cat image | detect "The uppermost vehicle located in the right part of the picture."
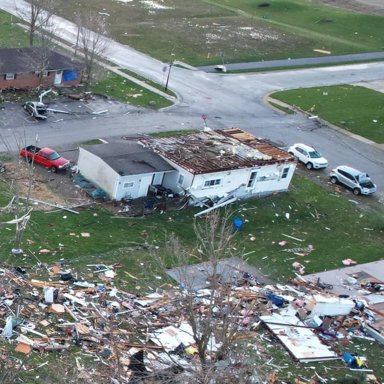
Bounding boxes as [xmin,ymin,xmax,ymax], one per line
[284,140,333,167]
